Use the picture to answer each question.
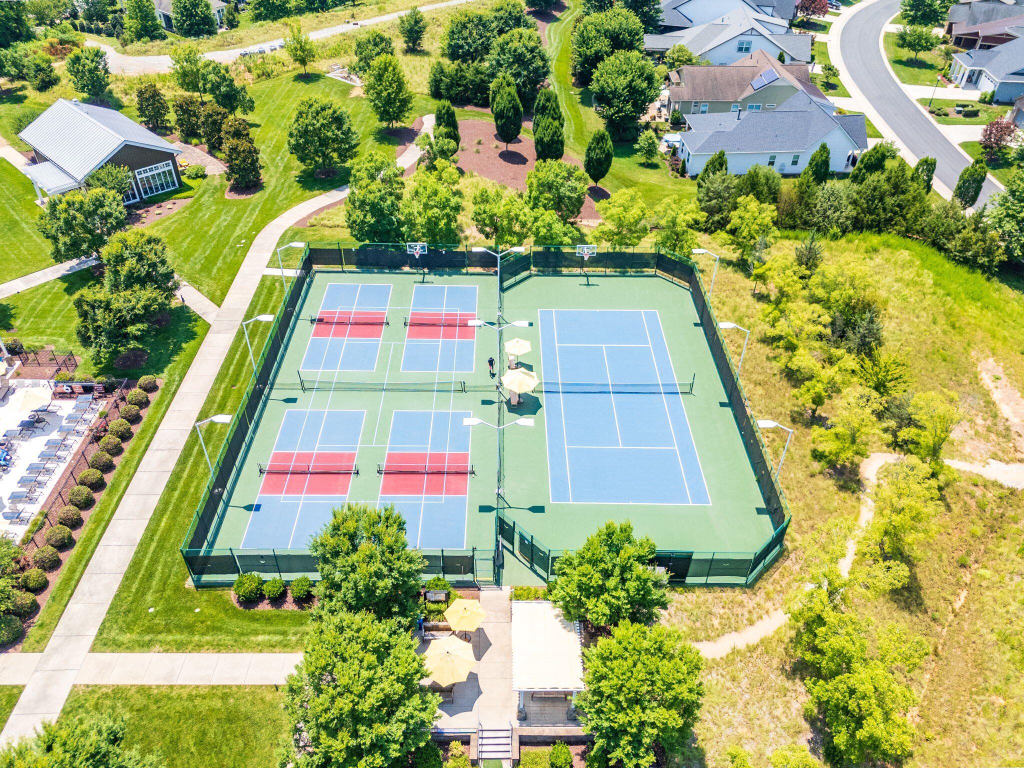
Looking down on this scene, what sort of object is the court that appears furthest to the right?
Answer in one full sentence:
Looking closely, the court that appears furthest to the right is a tennis court.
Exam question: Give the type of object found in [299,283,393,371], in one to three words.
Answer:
sports court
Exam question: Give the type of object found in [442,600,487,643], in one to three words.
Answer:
umbrella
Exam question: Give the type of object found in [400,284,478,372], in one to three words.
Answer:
sports court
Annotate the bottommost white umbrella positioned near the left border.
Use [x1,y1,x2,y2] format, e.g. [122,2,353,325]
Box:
[0,377,50,418]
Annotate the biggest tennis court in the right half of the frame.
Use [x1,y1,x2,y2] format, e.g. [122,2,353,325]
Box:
[498,270,786,588]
